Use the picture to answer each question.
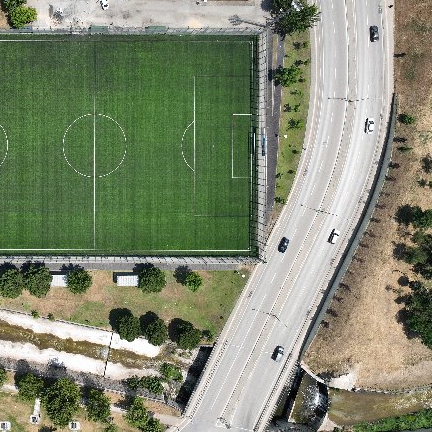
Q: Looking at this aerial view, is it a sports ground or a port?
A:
sports ground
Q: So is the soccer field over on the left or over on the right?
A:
left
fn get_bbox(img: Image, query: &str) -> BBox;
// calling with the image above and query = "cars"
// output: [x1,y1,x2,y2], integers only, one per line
[279,237,290,253]
[329,228,339,244]
[365,118,374,133]
[370,26,379,42]
[273,346,284,361]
